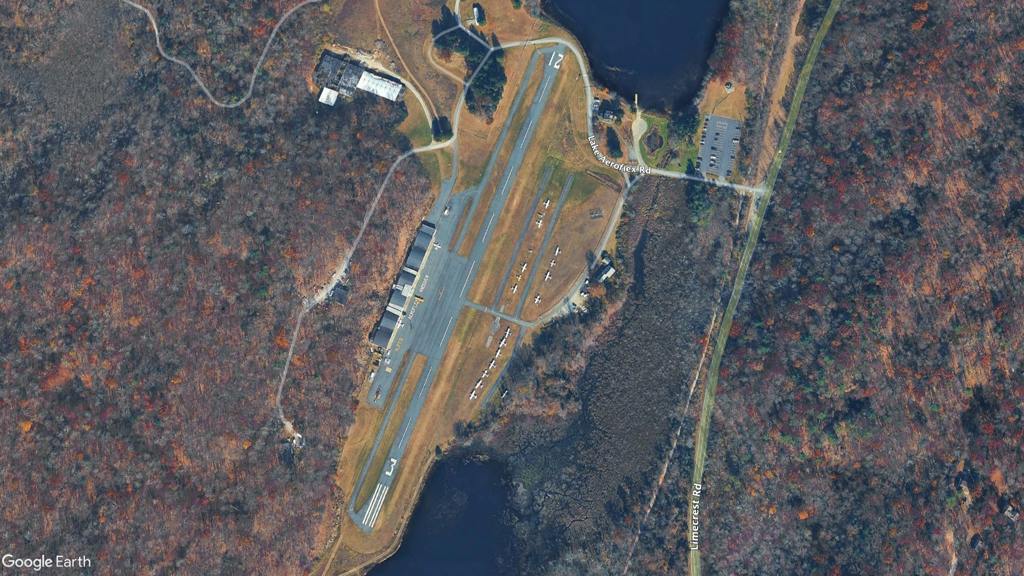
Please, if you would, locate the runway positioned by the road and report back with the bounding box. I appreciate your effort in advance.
[360,45,566,533]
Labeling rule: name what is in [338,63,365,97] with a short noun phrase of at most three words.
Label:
building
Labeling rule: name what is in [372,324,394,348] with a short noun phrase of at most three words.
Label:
hangar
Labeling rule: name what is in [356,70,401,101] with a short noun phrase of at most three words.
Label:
building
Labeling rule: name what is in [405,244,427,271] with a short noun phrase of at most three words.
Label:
hangar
